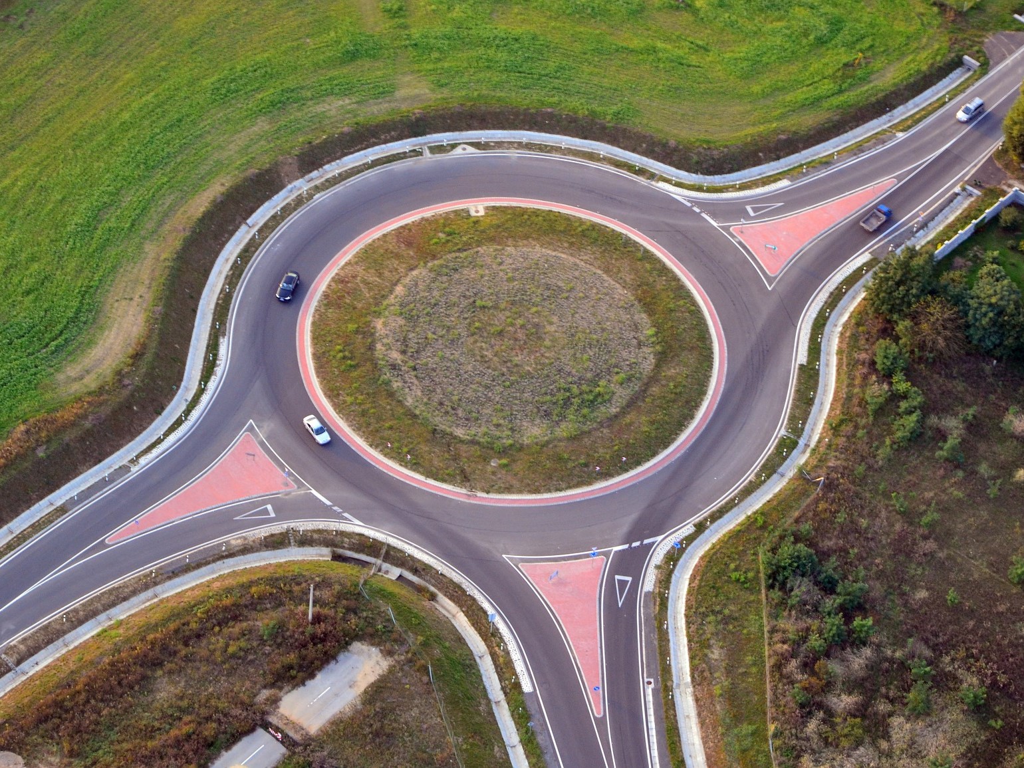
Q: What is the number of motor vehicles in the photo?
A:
4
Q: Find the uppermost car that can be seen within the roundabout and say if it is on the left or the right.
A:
left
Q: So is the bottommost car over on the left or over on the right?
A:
left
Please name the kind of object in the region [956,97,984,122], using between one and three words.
car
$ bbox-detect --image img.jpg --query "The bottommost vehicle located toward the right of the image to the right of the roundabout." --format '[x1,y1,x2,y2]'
[859,205,893,232]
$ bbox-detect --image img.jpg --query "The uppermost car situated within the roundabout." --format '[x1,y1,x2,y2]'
[276,271,299,298]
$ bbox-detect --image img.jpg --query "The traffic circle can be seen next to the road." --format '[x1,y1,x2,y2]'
[244,165,778,548]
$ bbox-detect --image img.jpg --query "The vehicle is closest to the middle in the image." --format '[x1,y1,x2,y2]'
[302,414,331,444]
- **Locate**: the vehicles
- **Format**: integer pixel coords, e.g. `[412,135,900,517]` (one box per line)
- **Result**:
[859,205,893,232]
[956,97,984,122]
[276,271,299,298]
[302,414,331,444]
